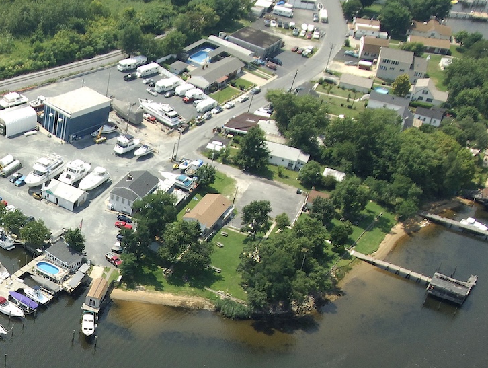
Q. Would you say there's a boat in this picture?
Yes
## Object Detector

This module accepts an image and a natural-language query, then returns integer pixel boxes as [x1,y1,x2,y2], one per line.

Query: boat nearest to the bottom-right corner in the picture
[456,208,488,231]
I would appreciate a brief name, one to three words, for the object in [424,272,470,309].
shed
